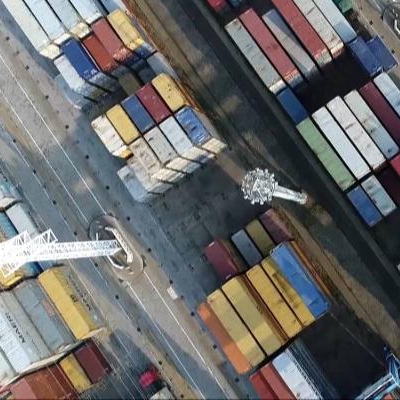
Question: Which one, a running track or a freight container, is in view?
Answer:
freight container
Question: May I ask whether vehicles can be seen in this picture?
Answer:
Yes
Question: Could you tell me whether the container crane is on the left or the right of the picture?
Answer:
right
